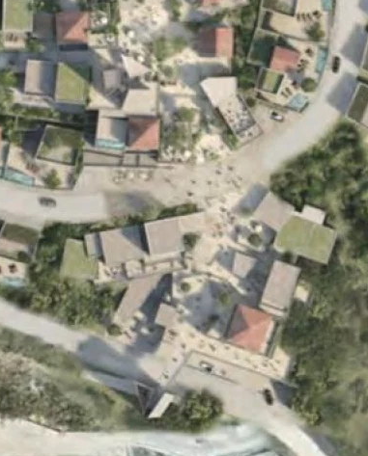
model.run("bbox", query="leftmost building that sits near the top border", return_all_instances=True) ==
[2,0,33,32]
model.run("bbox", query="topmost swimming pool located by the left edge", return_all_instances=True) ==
[0,165,34,187]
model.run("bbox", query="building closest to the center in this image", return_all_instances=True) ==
[145,218,183,257]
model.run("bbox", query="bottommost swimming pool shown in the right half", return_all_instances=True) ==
[286,91,313,109]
